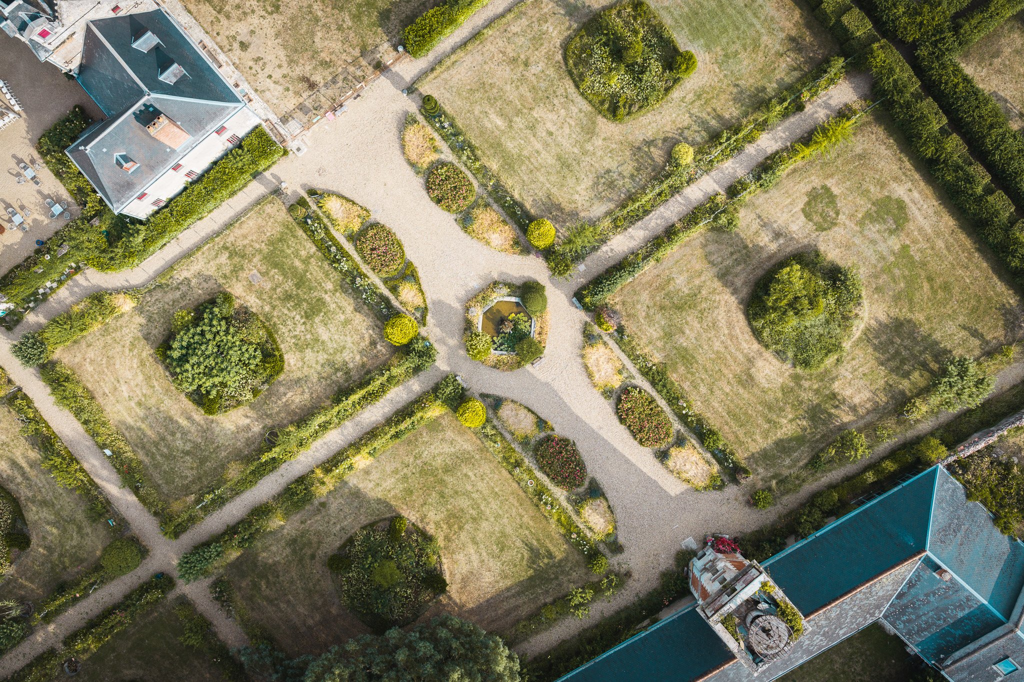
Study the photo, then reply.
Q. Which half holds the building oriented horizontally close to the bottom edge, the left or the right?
right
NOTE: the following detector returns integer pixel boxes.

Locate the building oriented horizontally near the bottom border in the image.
[549,462,1024,682]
